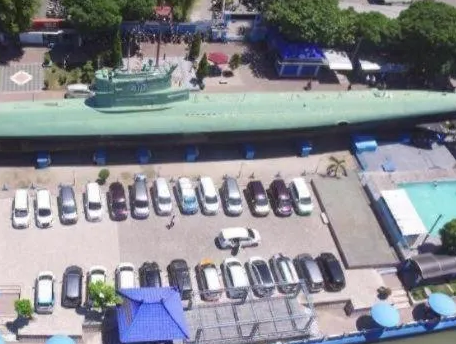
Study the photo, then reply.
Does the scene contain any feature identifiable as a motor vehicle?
Yes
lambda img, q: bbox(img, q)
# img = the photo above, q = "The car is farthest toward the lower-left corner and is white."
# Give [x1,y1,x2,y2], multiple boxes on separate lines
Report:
[33,276,55,311]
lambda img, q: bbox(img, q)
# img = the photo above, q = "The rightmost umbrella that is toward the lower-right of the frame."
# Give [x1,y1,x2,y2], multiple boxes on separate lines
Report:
[426,293,456,321]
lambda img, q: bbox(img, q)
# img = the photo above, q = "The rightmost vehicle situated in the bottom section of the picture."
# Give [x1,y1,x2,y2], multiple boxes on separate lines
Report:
[315,254,347,293]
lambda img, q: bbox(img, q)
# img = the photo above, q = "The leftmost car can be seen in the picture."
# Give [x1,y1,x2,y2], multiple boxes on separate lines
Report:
[10,190,30,227]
